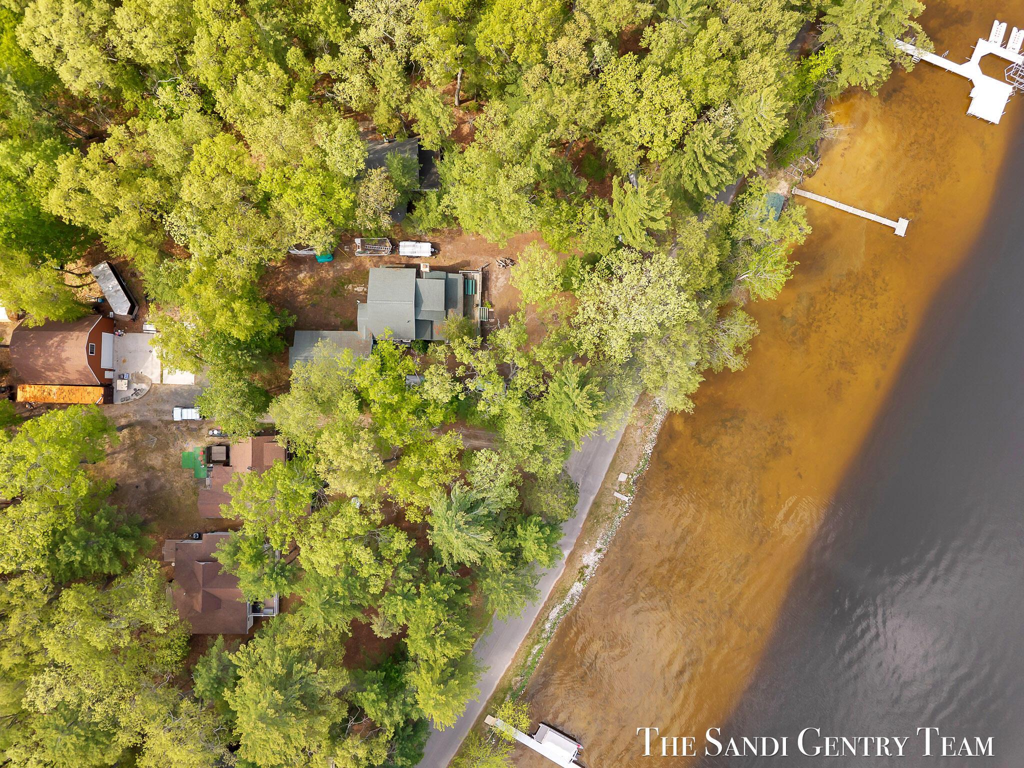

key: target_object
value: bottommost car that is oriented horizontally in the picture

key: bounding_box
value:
[171,407,204,422]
